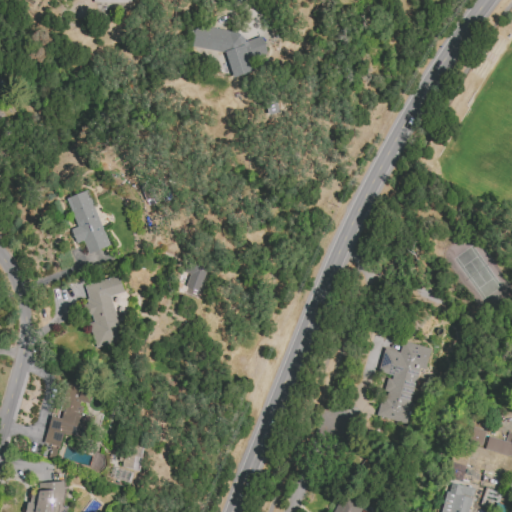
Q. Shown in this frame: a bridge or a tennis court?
tennis court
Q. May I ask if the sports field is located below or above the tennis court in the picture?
above it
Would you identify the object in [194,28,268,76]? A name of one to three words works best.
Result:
house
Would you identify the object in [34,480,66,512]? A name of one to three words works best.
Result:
house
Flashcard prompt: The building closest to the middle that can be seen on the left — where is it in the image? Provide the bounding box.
[187,266,207,296]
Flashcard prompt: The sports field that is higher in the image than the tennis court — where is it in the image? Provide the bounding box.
[441,41,512,202]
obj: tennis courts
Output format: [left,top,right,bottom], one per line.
[442,244,505,306]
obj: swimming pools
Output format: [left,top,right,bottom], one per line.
[64,447,92,466]
[84,499,102,512]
